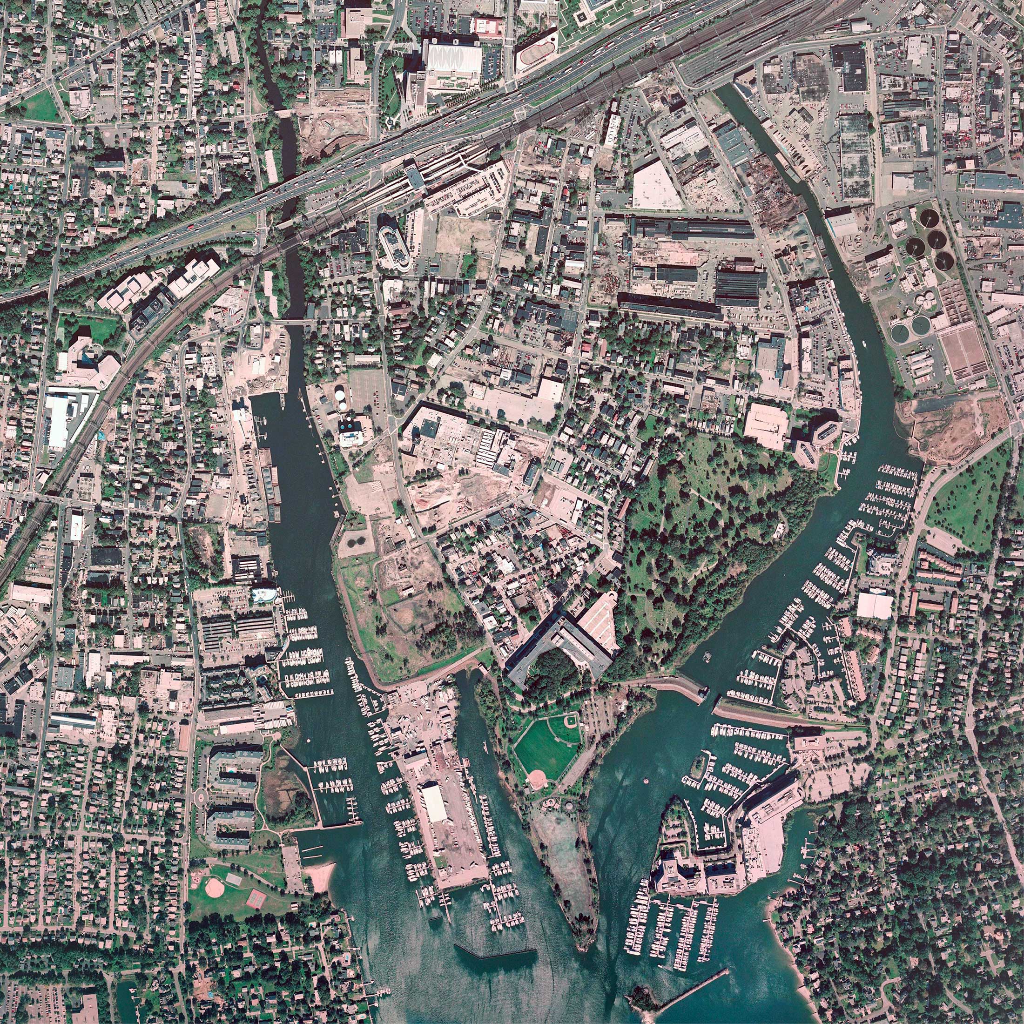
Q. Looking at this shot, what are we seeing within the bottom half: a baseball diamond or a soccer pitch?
baseball diamond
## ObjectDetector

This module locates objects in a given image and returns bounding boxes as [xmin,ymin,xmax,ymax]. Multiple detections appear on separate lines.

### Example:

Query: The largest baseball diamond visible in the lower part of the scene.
[512,713,583,790]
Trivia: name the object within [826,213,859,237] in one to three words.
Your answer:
shed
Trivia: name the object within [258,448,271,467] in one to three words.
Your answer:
ship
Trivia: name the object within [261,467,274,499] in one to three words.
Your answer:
ship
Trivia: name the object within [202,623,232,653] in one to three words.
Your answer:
building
